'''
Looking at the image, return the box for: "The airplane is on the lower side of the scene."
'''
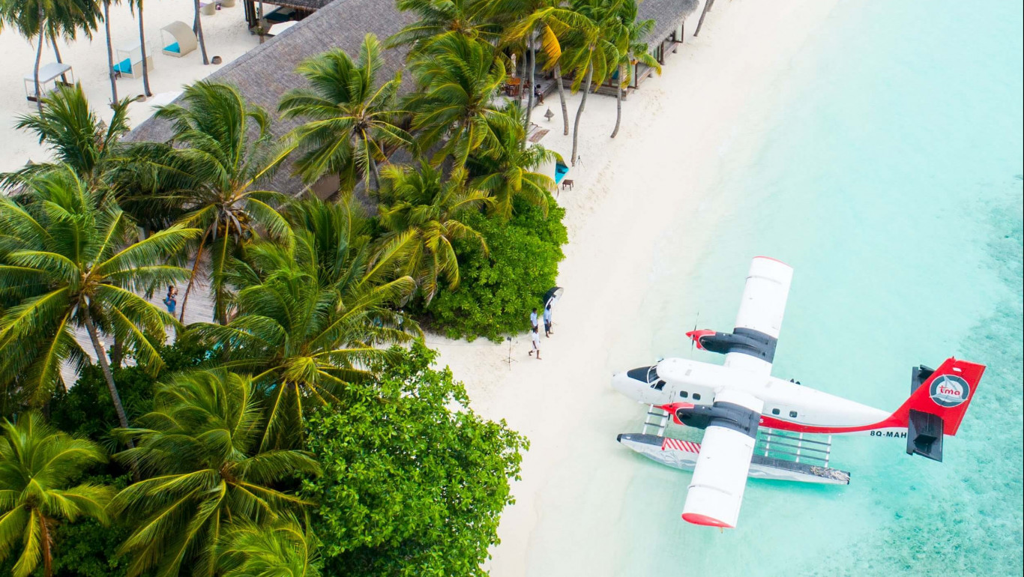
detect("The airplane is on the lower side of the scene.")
[610,258,986,525]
